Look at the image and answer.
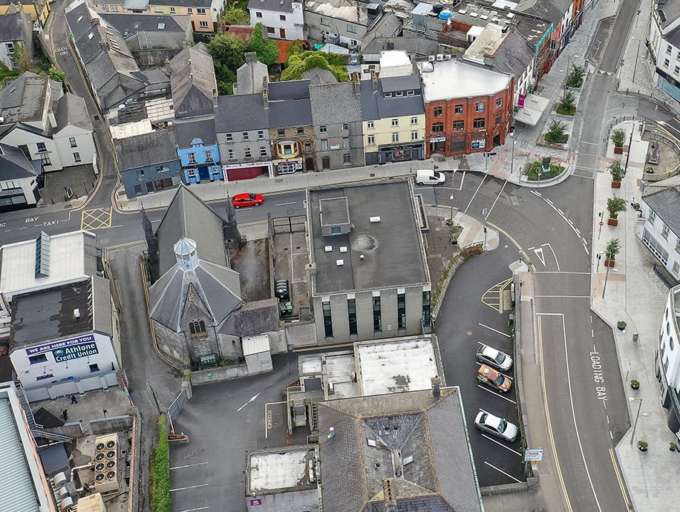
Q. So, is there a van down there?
Yes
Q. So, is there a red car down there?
Yes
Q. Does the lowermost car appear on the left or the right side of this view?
right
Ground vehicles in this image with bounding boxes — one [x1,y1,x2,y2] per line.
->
[415,167,446,185]
[473,341,515,372]
[472,408,520,441]
[473,359,514,391]
[231,190,263,208]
